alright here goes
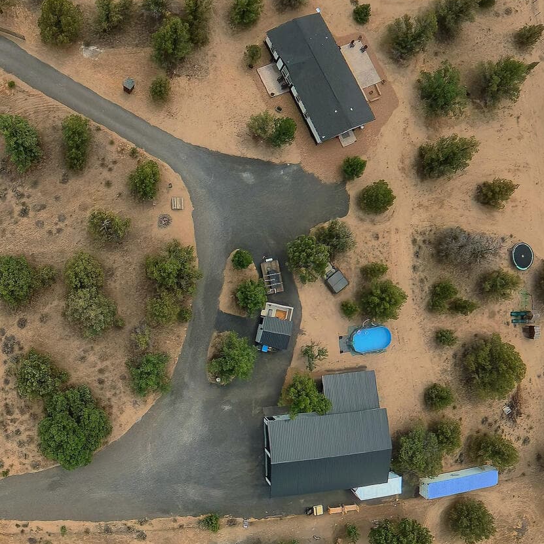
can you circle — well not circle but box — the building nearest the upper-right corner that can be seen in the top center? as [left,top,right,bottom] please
[265,13,375,146]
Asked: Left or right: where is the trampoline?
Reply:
right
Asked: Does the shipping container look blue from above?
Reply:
Yes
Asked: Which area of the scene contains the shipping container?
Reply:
bottom right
